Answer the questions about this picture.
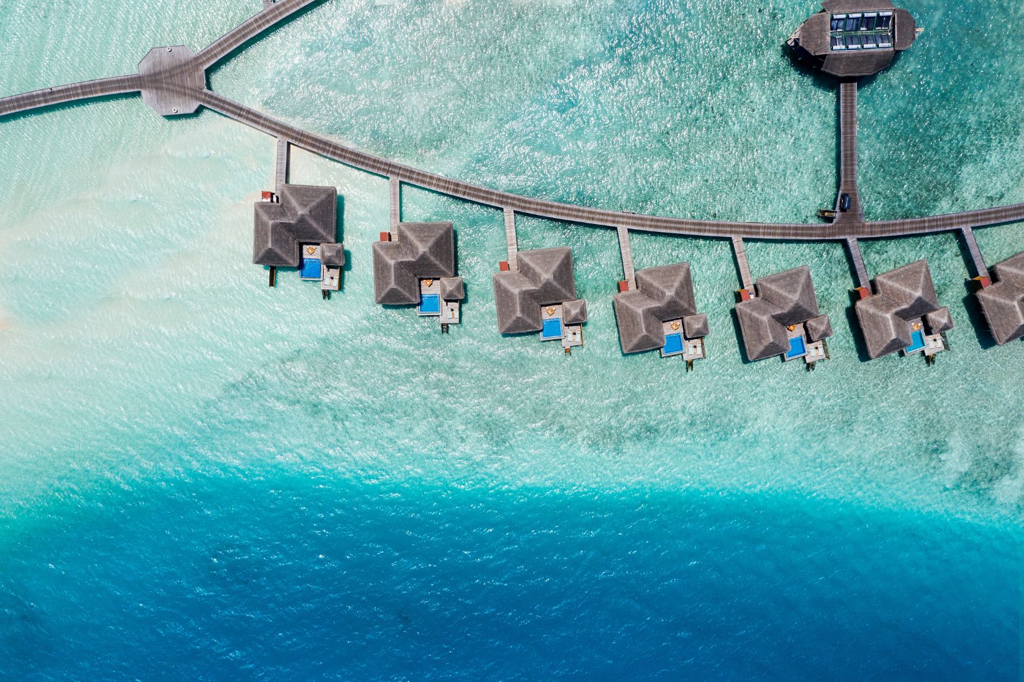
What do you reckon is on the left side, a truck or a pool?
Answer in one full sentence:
Looking on the left side, you will find a pool.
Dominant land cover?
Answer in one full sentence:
The scene is dominated by water.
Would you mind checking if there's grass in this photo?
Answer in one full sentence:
No, the scene doesn't show any grass.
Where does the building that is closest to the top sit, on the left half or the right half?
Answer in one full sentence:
It is on the right.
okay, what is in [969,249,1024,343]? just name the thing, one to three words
house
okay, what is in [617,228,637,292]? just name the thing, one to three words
pier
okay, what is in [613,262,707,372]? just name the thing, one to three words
house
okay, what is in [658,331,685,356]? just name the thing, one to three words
swimming pool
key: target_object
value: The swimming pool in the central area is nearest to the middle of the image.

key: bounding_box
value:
[539,316,564,341]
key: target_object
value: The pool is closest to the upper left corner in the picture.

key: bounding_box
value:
[299,257,324,280]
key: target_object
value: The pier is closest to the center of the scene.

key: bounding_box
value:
[503,207,519,272]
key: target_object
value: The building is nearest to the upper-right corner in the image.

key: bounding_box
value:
[778,0,924,77]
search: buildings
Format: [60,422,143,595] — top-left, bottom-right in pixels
[373,222,463,335]
[613,262,707,372]
[969,249,1024,343]
[735,265,831,372]
[851,259,952,366]
[778,0,924,77]
[254,184,344,302]
[493,247,586,358]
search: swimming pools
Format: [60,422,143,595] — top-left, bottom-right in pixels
[299,257,324,280]
[780,334,808,361]
[418,292,442,315]
[539,316,564,341]
[898,327,927,355]
[658,331,685,356]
